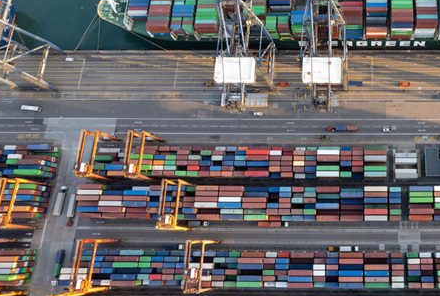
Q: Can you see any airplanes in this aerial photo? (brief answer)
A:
No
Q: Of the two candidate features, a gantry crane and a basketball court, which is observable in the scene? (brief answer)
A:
gantry crane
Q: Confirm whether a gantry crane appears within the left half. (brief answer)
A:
Yes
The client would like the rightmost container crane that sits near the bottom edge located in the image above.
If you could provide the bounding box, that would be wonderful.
[178,236,222,292]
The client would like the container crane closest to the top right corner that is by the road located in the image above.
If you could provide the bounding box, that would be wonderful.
[300,0,351,112]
